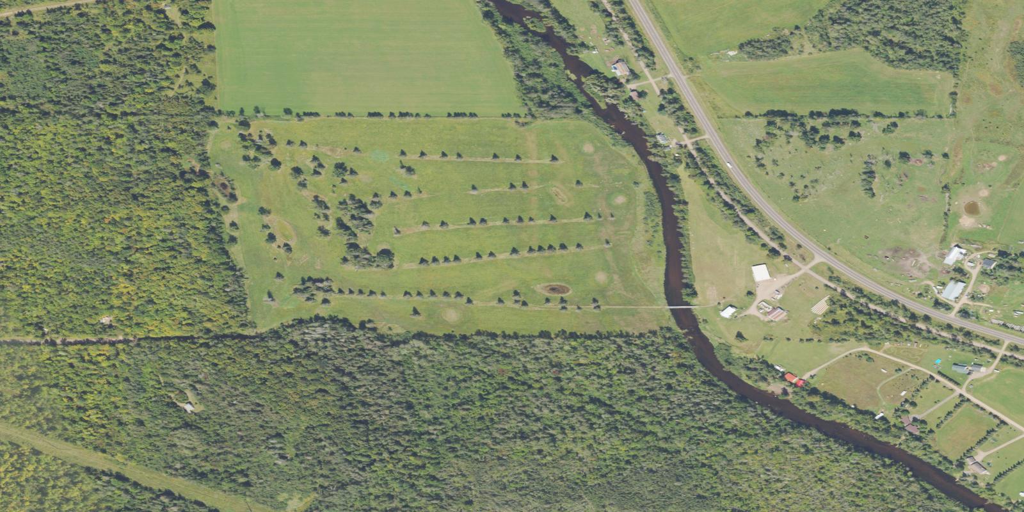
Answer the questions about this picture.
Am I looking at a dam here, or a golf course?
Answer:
golf course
